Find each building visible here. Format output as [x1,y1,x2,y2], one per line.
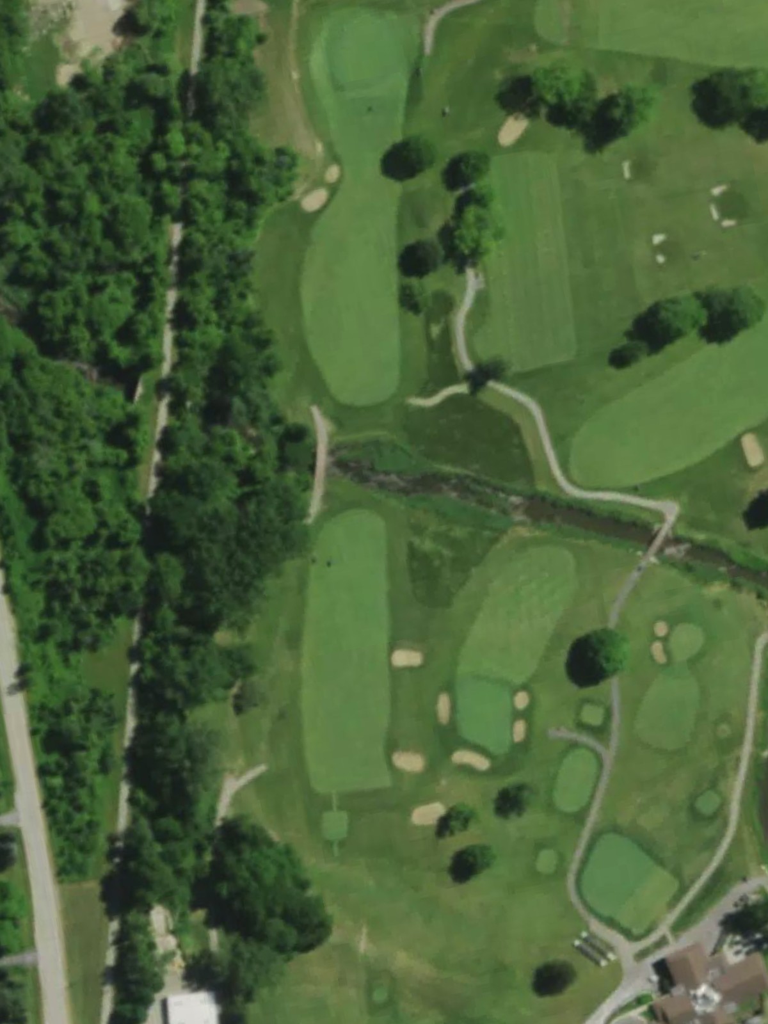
[167,991,217,1024]
[648,941,768,1024]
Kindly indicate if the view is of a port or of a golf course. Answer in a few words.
golf course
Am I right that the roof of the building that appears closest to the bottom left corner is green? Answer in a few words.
No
